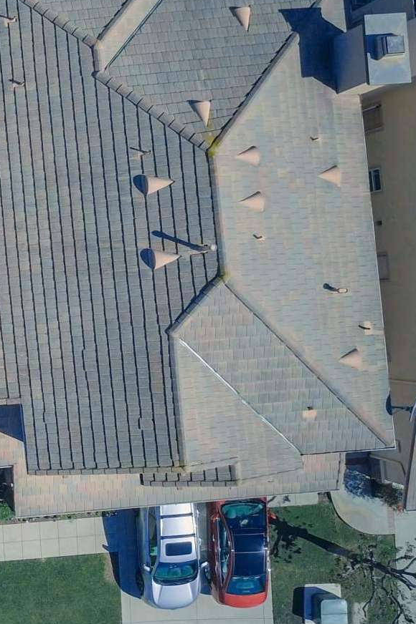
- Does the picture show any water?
No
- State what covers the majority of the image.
buildings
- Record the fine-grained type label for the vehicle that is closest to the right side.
automobile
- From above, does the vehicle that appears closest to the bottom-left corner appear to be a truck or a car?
car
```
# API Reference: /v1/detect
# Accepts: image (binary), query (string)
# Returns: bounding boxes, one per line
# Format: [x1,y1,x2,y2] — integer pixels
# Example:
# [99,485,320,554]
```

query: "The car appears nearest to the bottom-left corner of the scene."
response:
[138,503,207,611]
